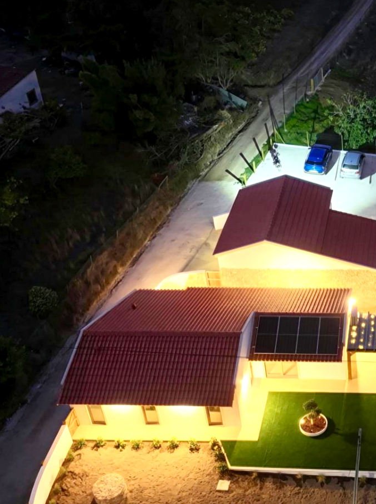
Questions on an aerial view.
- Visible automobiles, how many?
2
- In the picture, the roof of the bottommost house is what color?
red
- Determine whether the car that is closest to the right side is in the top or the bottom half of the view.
top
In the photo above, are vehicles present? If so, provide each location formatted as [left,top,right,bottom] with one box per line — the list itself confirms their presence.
[268,144,279,168]
[302,143,334,174]
[339,150,366,178]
